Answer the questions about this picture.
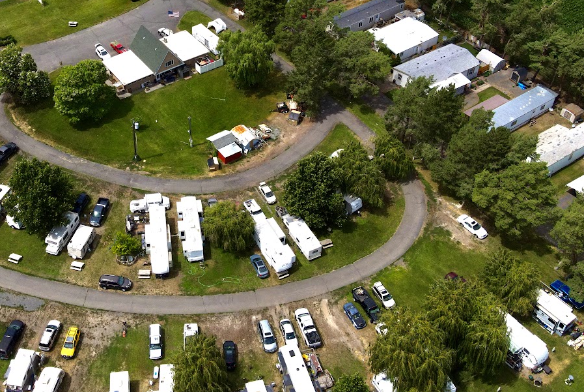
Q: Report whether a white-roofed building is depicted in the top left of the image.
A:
Yes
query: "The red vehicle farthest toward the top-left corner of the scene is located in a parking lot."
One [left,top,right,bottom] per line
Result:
[107,42,130,56]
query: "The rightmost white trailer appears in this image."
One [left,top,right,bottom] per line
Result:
[528,292,577,339]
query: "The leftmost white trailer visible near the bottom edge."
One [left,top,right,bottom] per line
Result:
[5,350,38,392]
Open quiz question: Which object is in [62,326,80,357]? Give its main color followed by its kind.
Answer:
yellow car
